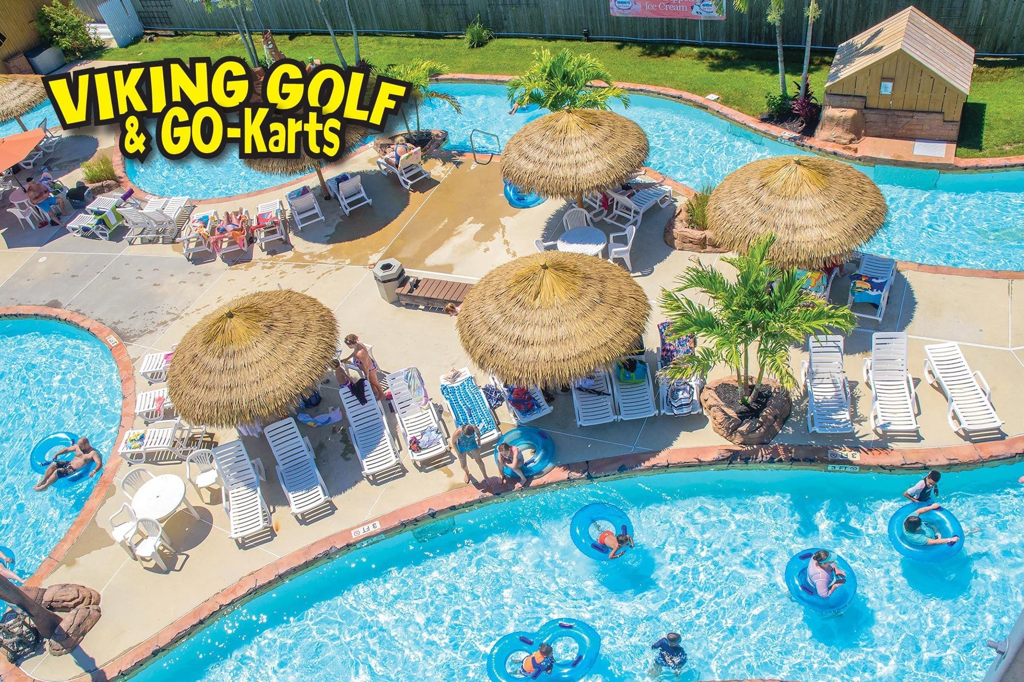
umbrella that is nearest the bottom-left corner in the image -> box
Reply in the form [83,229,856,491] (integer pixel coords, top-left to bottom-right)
[167,298,348,441]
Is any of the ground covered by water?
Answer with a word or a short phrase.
Yes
